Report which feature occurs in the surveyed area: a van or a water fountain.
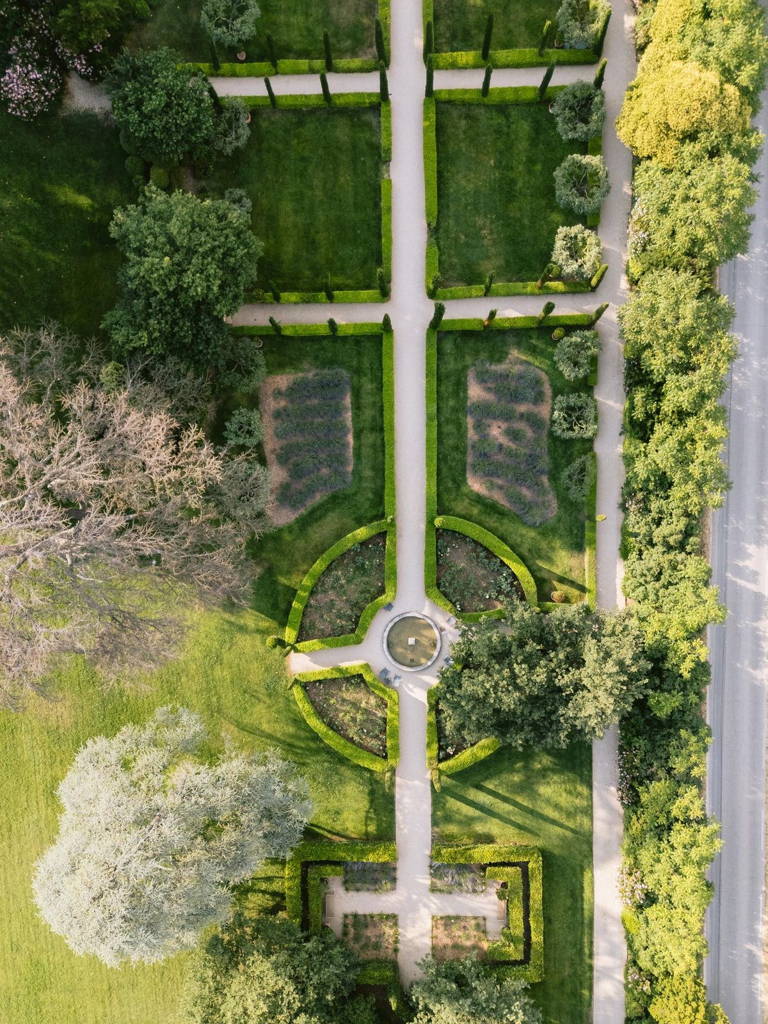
water fountain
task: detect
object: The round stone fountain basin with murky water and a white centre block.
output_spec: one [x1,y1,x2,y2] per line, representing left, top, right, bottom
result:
[382,612,442,673]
